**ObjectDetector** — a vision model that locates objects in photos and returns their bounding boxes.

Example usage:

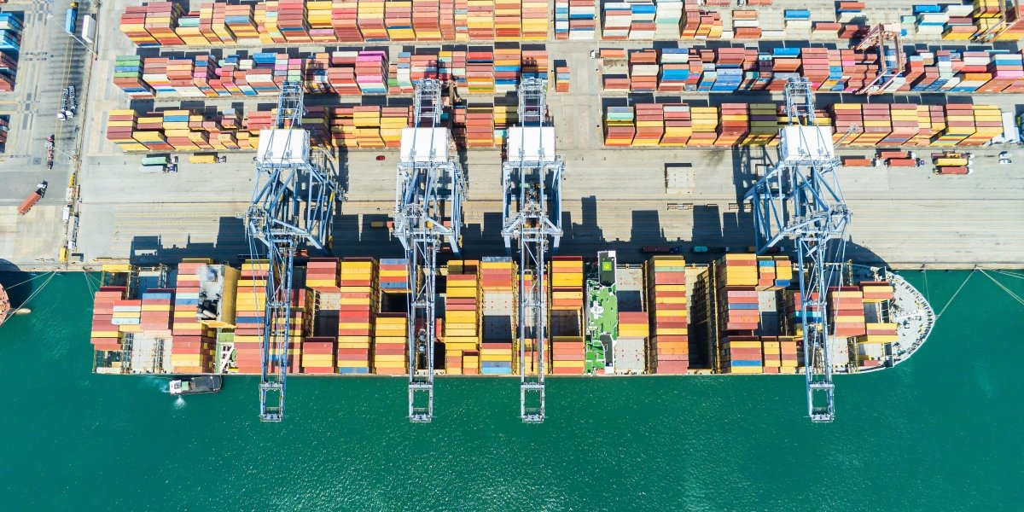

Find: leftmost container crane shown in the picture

[241,81,349,421]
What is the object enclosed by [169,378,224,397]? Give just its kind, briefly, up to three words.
boat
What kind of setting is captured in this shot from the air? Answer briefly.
port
